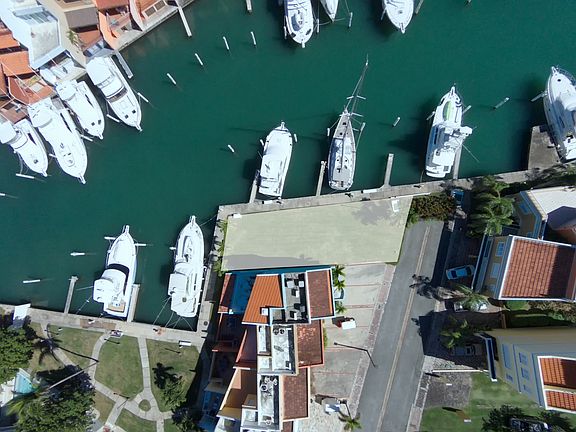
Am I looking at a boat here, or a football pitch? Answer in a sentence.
The one in the frame is a boat.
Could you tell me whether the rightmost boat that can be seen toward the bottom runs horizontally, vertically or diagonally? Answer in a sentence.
From this overhead view, the rightmost boat that can be seen toward the bottom appears to run vertically.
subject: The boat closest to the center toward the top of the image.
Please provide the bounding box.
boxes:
[256,122,294,200]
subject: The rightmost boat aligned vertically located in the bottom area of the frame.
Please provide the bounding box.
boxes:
[152,214,217,328]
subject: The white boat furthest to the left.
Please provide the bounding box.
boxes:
[0,117,51,176]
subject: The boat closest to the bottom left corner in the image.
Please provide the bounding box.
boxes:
[76,226,139,322]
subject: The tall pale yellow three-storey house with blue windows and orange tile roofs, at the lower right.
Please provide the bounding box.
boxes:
[473,331,576,413]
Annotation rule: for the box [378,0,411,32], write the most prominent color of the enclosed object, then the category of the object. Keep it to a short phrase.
white boat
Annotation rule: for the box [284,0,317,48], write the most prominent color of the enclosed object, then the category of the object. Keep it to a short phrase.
white boat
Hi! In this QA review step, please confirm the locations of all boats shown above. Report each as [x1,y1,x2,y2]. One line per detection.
[538,68,576,168]
[0,117,51,176]
[84,48,141,128]
[328,58,375,196]
[24,93,88,184]
[152,214,217,328]
[419,87,476,184]
[76,226,139,322]
[256,122,294,200]
[284,0,317,48]
[320,0,338,22]
[50,76,104,137]
[378,0,411,32]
